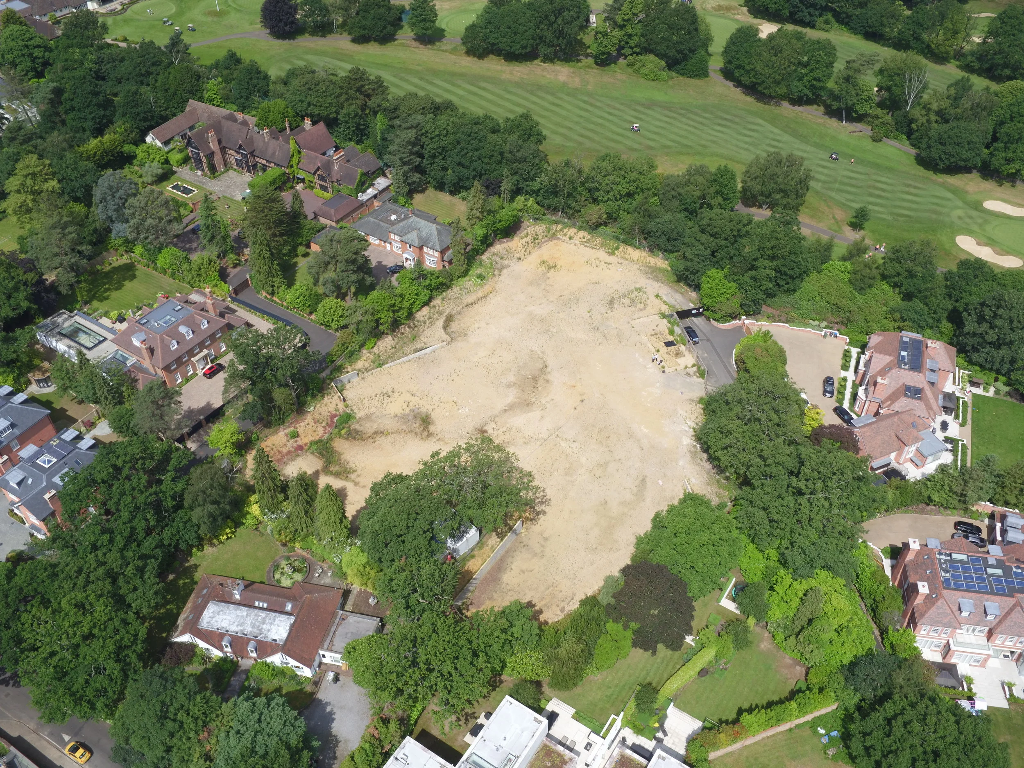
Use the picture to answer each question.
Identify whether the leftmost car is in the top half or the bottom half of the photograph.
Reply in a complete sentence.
You can find the leftmost car in the bottom half.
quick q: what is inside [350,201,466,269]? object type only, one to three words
house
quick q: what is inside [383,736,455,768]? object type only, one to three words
house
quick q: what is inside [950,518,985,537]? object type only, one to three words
car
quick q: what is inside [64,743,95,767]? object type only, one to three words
car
